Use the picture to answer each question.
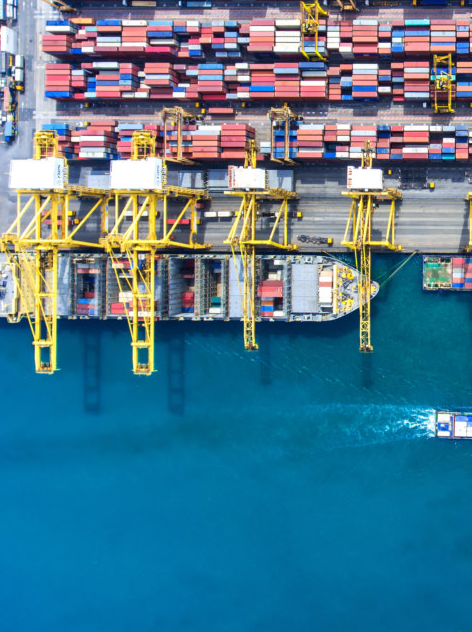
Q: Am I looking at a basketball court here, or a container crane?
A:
container crane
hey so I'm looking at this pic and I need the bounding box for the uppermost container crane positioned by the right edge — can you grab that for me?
[430,52,455,115]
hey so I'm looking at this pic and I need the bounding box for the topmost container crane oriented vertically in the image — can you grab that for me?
[299,0,330,66]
